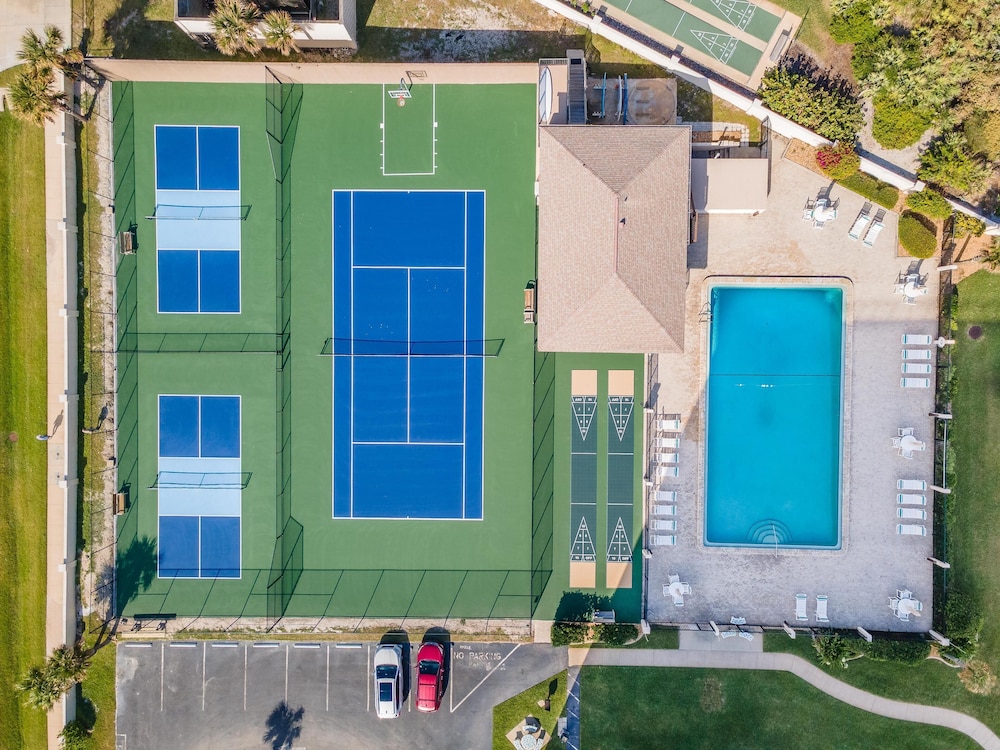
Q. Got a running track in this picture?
No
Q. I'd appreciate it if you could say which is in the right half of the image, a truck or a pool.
pool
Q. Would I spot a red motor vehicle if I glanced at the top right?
No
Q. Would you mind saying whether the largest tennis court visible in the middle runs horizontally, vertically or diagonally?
vertically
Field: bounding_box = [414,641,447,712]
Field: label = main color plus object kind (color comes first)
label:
red car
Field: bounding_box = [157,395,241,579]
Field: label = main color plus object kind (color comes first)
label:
blue sports court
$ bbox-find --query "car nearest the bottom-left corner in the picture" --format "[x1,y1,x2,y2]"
[371,644,405,718]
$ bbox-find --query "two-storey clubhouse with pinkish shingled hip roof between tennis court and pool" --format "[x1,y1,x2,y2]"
[536,123,689,354]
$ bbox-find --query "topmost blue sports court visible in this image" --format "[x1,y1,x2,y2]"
[154,125,241,313]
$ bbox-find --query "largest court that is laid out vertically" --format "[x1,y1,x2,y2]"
[332,189,485,521]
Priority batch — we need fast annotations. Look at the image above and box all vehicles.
[414,641,447,712]
[371,644,405,718]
